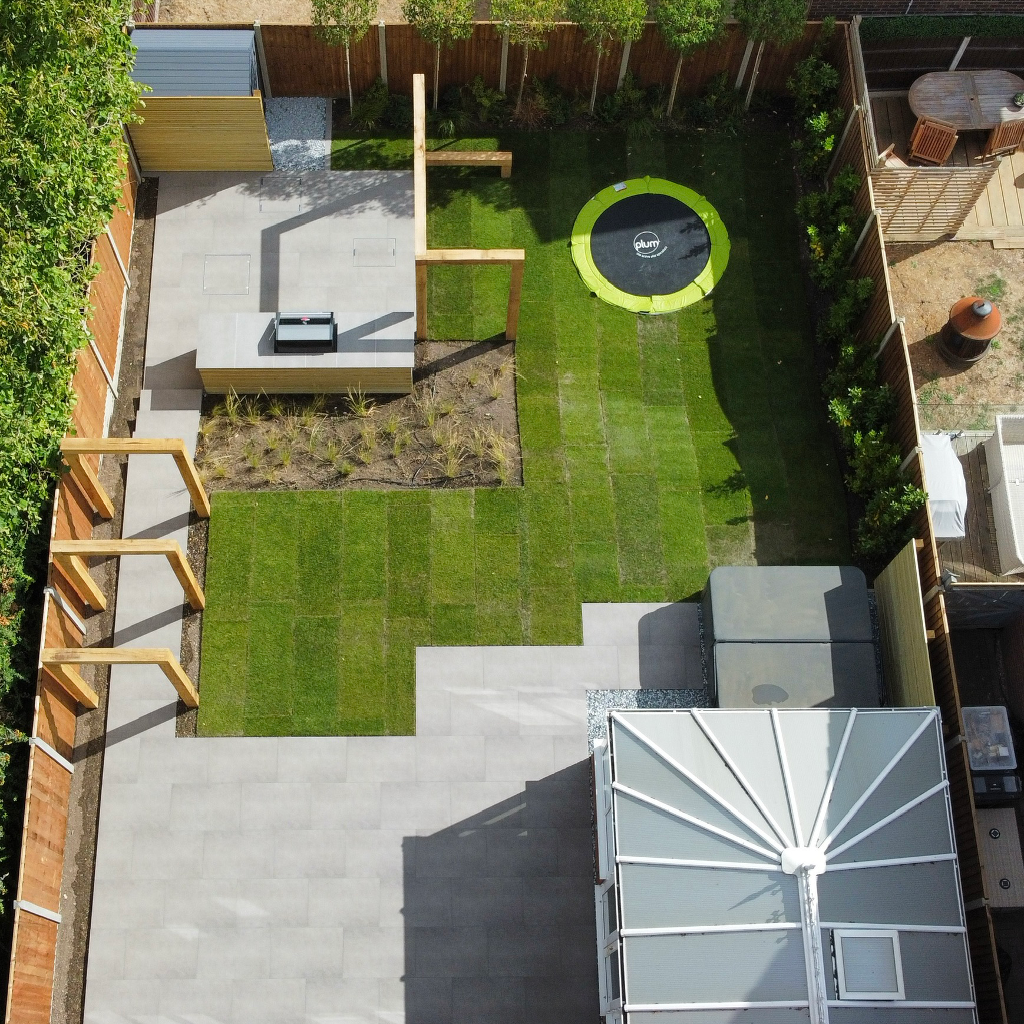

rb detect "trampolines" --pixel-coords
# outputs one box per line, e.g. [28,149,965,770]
[570,173,732,315]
